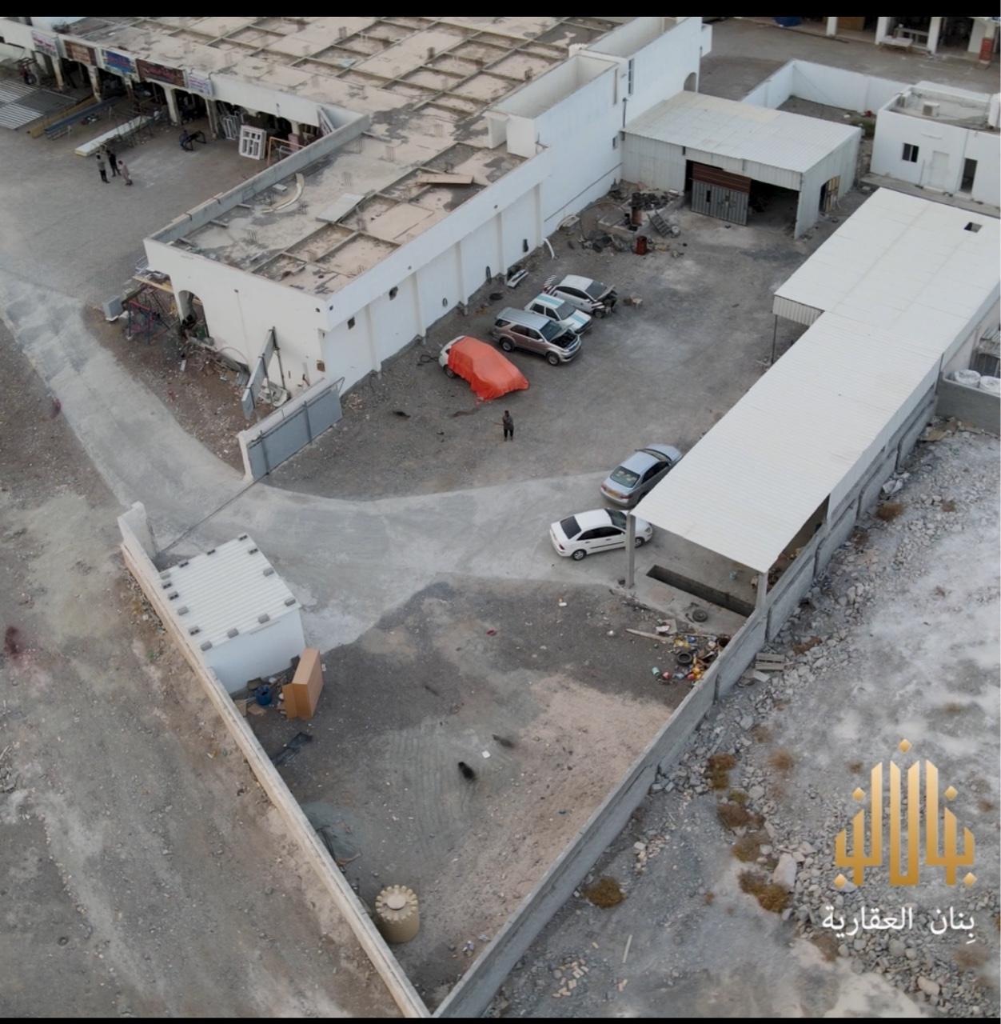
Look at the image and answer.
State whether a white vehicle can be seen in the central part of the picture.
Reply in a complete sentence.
Yes, I can see a white vehicle in the central part of the picture.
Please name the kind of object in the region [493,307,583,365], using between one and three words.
car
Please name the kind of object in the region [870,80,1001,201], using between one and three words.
house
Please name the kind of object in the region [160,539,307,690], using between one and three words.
shed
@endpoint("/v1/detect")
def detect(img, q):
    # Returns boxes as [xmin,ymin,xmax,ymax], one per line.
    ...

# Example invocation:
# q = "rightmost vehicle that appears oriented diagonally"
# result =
[602,447,683,509]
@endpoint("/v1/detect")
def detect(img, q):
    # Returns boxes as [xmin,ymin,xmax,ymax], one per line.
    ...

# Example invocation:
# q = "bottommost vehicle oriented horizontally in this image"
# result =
[553,508,657,560]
